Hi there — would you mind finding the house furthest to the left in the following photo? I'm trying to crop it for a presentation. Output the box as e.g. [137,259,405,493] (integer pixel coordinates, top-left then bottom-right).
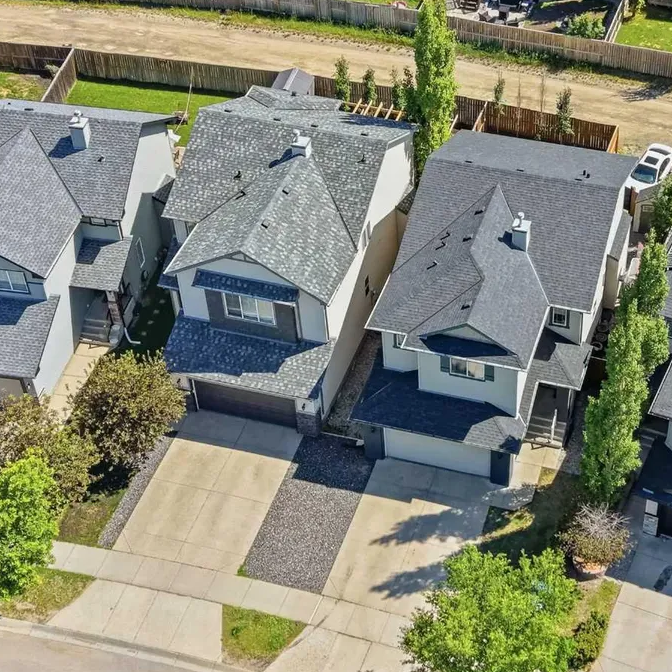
[0,99,178,422]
